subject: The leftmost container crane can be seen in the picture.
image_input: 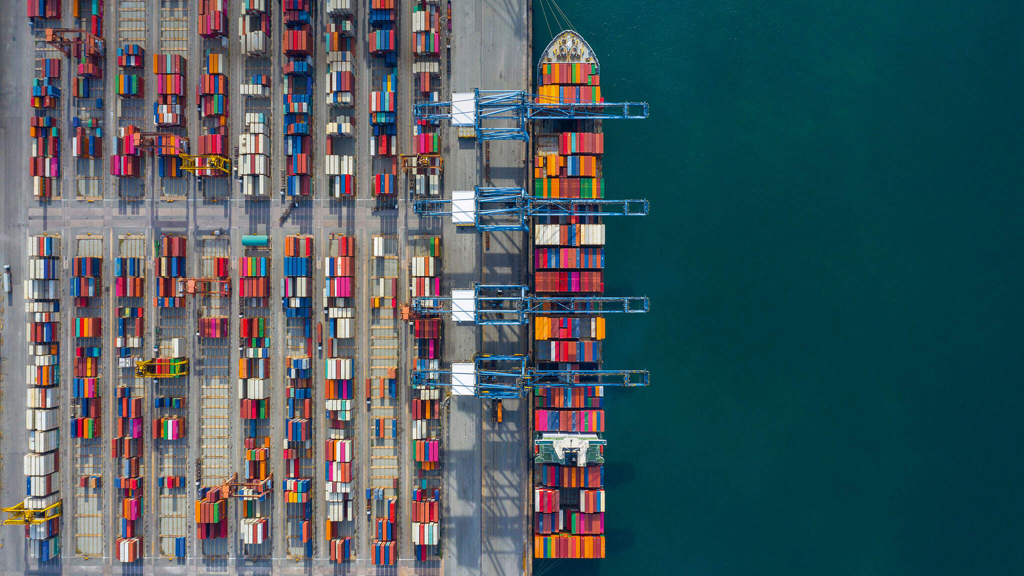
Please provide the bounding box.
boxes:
[1,495,62,525]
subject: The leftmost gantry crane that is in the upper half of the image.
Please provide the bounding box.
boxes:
[45,28,107,58]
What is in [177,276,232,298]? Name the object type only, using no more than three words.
container crane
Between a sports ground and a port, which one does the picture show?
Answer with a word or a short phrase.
port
